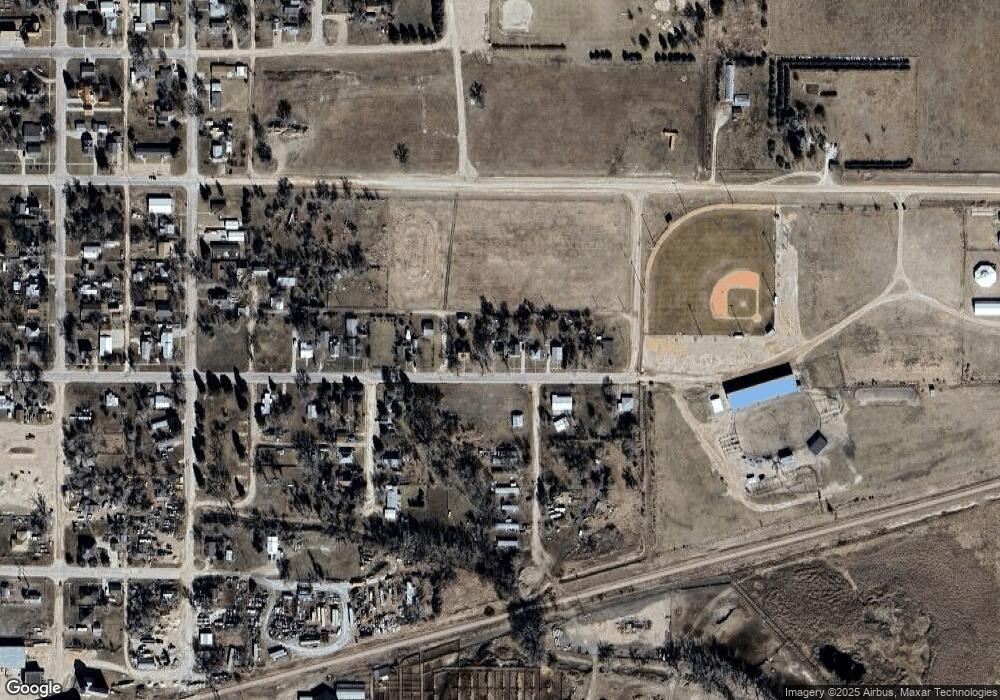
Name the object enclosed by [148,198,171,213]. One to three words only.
barn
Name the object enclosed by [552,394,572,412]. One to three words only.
barn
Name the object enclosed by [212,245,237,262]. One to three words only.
house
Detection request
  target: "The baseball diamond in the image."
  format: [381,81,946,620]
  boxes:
[646,204,776,335]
